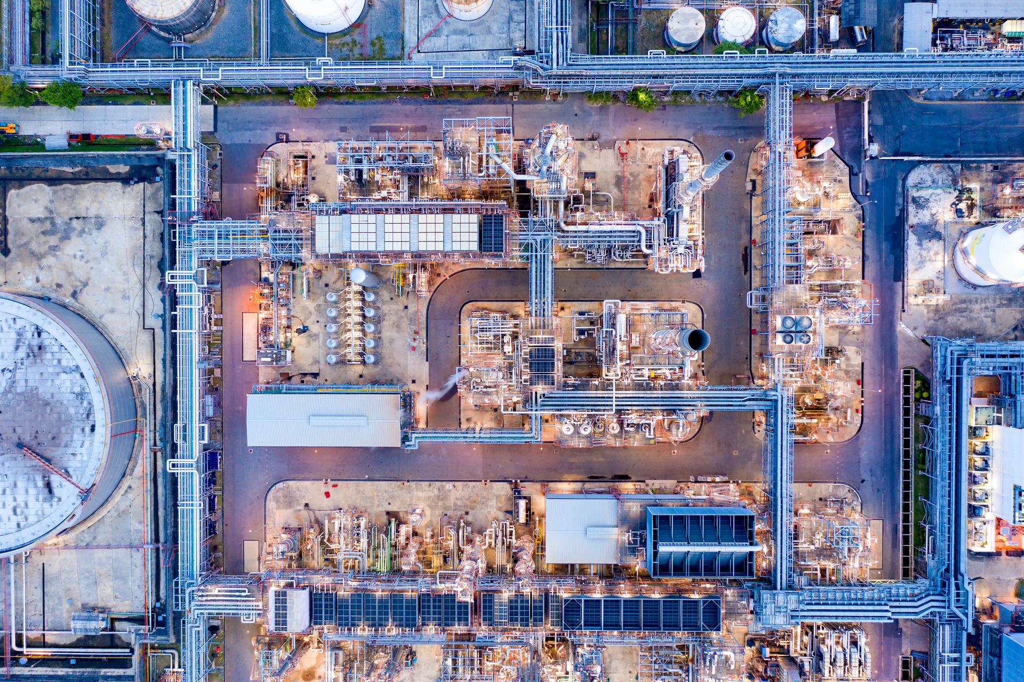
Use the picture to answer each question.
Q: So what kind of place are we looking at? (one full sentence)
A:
It's an industrial area.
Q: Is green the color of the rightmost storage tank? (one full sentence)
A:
No, the color of the rightmost storage tank is white.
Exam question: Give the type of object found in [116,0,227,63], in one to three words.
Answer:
storage tank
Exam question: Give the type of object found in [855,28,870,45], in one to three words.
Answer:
vehicle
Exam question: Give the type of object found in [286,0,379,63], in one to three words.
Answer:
storage tank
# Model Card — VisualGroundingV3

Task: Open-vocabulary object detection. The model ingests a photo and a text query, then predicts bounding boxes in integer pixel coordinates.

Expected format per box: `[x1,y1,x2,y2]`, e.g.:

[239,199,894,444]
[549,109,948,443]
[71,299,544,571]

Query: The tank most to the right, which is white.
[948,217,1024,294]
